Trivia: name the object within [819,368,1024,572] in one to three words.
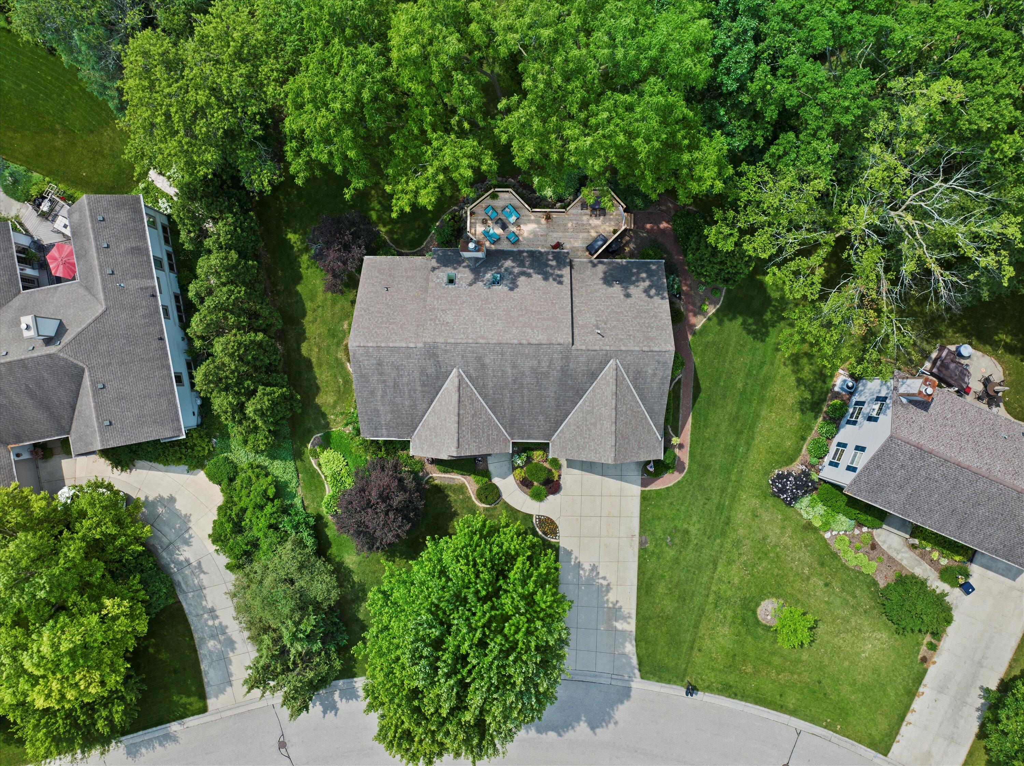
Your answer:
house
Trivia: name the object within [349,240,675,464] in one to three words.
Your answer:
house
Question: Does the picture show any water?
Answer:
No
